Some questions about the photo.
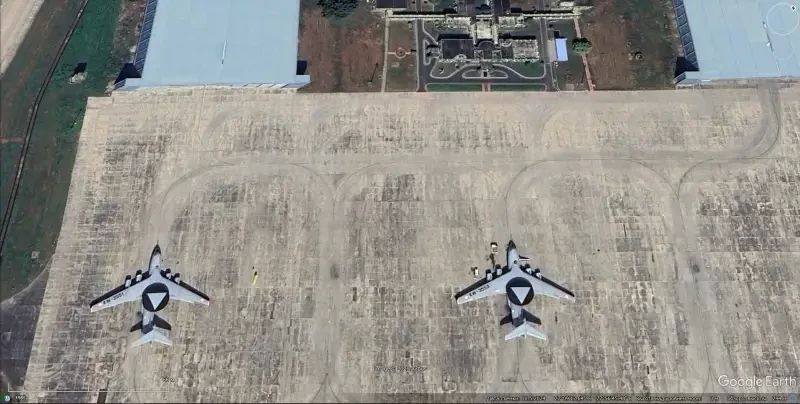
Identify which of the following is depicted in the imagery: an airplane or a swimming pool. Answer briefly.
airplane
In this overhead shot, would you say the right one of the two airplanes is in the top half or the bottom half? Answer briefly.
bottom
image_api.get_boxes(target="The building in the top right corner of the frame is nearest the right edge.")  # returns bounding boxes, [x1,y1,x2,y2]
[670,0,800,88]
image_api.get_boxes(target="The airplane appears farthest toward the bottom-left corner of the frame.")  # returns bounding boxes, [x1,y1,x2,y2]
[96,241,214,349]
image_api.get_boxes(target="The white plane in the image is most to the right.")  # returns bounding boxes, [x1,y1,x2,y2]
[458,234,575,343]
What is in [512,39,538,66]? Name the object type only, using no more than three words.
building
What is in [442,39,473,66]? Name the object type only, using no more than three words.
building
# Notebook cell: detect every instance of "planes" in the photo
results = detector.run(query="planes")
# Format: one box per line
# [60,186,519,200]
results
[458,234,575,343]
[96,241,214,349]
